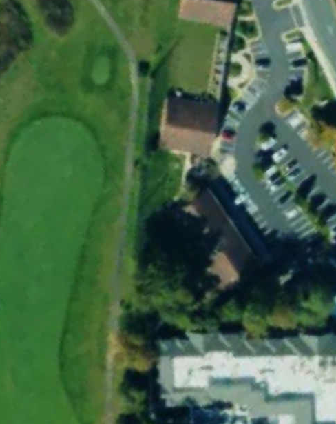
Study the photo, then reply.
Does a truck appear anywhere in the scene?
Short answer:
No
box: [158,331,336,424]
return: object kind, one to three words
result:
building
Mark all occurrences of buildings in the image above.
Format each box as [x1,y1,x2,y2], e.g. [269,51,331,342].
[158,331,336,424]
[158,93,222,154]
[179,0,237,29]
[190,179,272,272]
